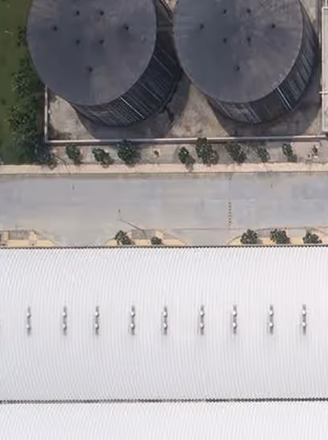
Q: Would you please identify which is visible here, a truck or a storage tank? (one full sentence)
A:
This aerial view contains a storage tank.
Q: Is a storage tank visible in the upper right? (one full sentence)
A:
Yes, looking in the upper right, one can make out a storage tank.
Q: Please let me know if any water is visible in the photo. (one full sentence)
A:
No, the picture contains no water.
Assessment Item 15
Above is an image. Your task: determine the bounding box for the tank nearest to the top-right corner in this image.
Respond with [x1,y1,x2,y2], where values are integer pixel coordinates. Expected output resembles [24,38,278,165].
[172,0,320,125]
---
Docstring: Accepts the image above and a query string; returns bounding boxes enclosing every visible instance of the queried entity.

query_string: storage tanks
[25,0,182,129]
[172,0,320,125]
